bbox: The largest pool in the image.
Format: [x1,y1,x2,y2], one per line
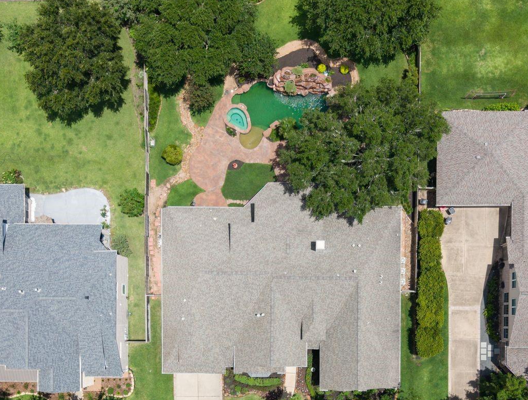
[232,81,327,149]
